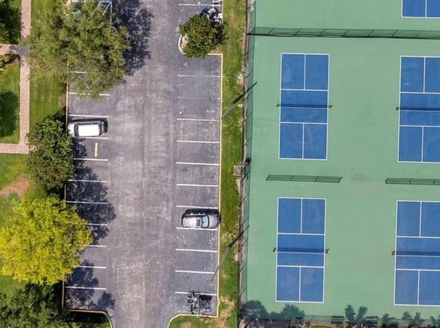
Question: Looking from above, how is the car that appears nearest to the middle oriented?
from left to right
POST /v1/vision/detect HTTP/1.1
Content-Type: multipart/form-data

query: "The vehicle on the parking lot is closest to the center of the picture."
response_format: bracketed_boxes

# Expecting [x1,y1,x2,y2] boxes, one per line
[182,211,219,231]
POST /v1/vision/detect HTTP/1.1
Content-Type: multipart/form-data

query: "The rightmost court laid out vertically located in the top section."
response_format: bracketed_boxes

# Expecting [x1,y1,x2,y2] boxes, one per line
[397,56,440,163]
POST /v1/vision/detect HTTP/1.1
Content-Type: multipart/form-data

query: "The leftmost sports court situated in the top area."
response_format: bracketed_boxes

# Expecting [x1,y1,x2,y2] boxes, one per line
[278,54,330,160]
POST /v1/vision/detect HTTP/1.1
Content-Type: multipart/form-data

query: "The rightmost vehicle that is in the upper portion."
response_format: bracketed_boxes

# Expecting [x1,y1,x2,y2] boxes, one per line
[70,121,107,140]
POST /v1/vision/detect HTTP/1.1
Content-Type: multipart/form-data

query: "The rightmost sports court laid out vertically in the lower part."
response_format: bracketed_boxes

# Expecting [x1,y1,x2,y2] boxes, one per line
[394,200,440,306]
